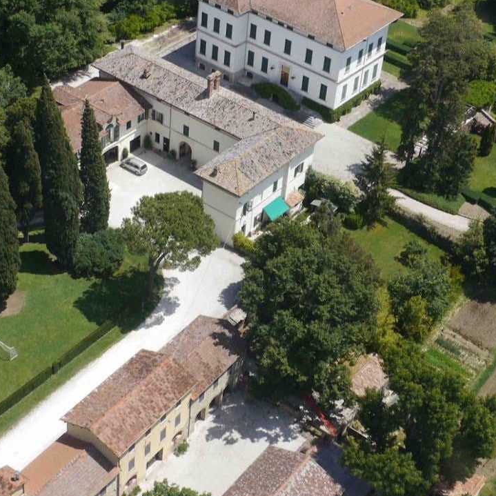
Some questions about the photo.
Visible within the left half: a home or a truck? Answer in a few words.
home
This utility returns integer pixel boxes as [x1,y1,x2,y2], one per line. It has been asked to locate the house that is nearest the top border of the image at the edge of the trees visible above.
[195,0,404,109]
